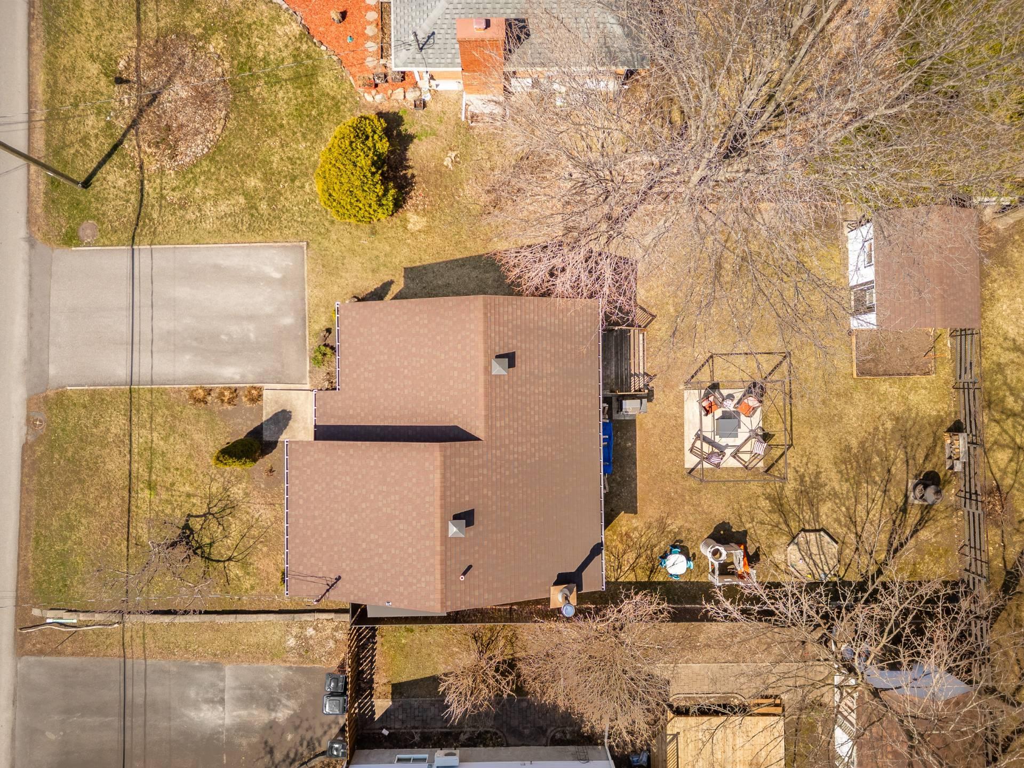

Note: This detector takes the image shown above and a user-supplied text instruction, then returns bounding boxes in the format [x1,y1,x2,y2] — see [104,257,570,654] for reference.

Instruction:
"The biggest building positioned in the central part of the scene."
[283,294,606,626]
